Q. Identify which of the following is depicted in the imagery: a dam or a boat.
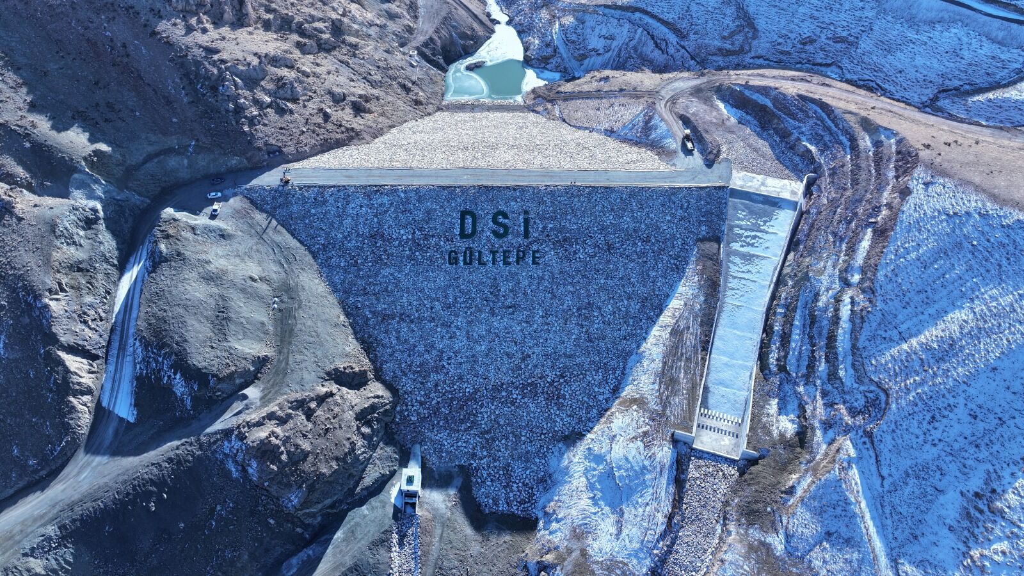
dam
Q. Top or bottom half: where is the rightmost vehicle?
top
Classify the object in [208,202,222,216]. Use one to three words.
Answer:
vehicle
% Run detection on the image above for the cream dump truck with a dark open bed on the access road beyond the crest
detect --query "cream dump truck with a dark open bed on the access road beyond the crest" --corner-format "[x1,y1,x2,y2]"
[682,127,702,149]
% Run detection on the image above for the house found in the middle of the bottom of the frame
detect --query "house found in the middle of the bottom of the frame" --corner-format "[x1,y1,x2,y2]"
[399,422,422,524]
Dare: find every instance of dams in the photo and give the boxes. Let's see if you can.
[238,103,736,521]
